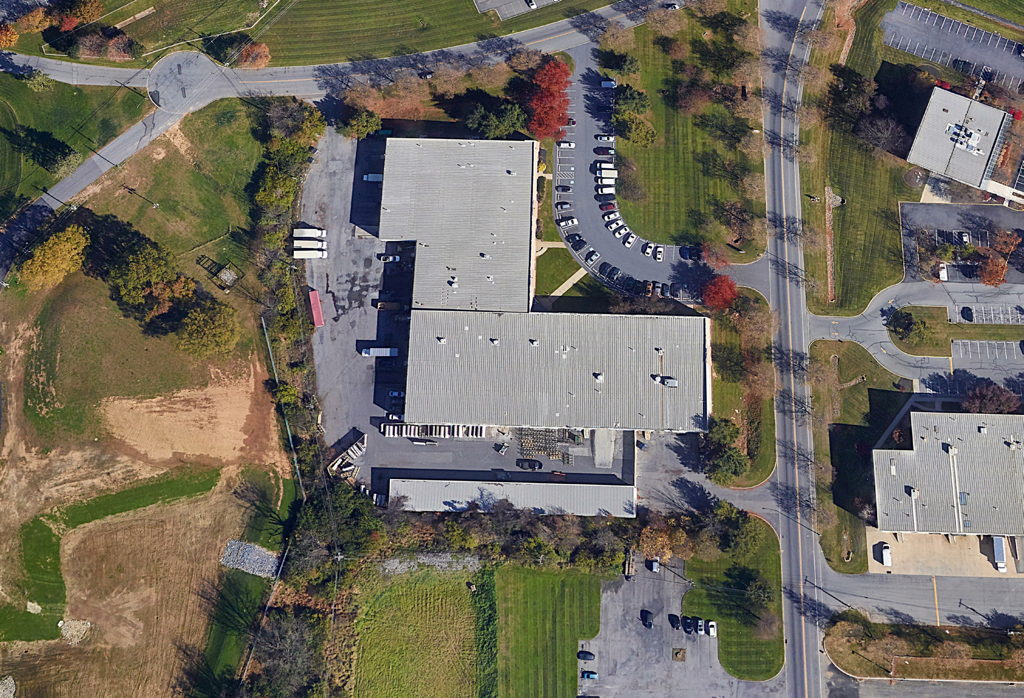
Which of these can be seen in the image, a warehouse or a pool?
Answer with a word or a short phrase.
warehouse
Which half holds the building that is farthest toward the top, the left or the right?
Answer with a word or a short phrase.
right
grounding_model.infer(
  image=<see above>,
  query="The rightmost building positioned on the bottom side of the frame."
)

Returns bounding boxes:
[873,412,1024,561]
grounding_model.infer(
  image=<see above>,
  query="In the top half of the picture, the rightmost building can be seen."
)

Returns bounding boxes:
[907,87,1016,192]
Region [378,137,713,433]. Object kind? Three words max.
warehouse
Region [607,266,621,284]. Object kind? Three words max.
vehicle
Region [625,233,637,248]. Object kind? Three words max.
vehicle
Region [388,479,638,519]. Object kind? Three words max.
building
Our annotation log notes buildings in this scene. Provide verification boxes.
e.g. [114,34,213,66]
[873,412,1024,561]
[907,87,1016,192]
[378,137,713,433]
[388,479,638,519]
